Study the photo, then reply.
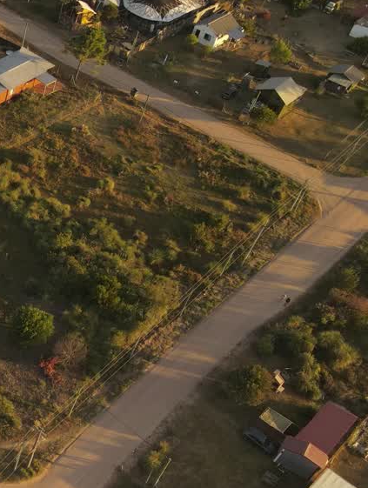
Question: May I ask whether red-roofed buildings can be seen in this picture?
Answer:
Yes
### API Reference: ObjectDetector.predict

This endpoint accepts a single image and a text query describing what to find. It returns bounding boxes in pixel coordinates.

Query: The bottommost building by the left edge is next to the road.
[0,49,70,113]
